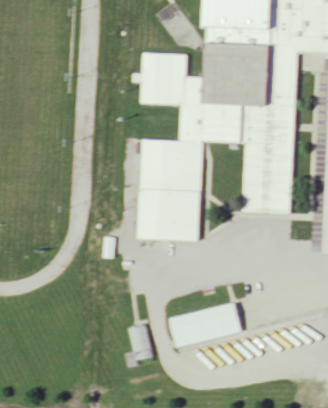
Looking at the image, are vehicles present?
Yes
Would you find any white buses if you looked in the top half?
No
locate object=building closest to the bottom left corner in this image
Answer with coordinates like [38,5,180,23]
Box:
[128,326,154,360]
